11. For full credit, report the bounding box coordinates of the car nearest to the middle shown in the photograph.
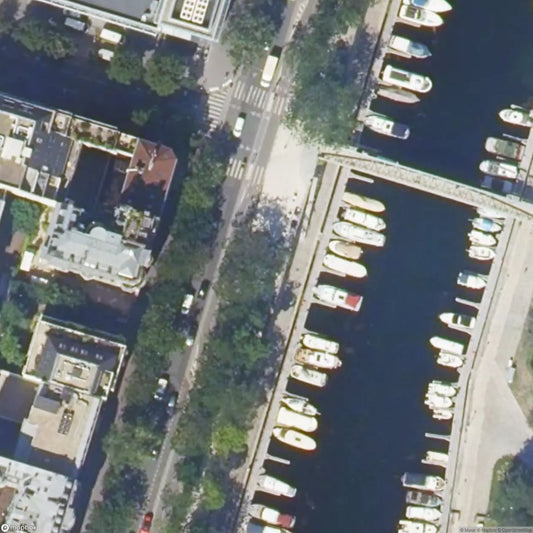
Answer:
[198,278,212,298]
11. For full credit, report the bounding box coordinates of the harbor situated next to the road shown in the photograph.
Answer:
[213,0,533,533]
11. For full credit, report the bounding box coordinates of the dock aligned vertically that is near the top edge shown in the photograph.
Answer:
[361,0,401,134]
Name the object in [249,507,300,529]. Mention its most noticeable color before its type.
white boat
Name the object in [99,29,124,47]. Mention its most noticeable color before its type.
white vehicle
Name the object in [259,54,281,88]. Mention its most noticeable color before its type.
white vehicle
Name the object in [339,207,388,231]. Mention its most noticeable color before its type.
white boat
